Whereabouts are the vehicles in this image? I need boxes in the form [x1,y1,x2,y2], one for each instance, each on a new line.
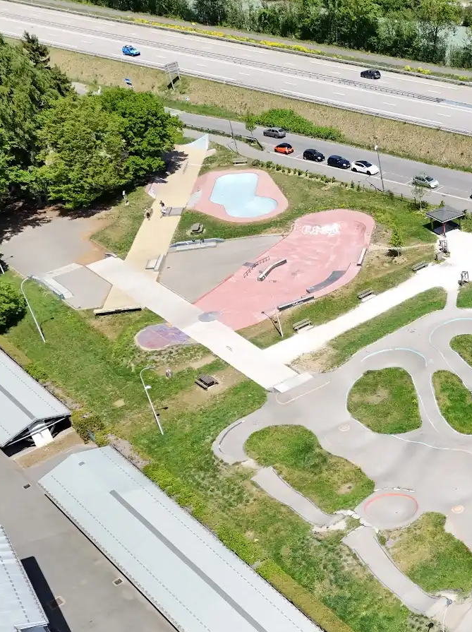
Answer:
[324,152,351,169]
[300,148,325,162]
[348,160,378,174]
[358,67,380,78]
[121,45,140,55]
[410,171,439,189]
[262,125,287,137]
[272,140,294,153]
